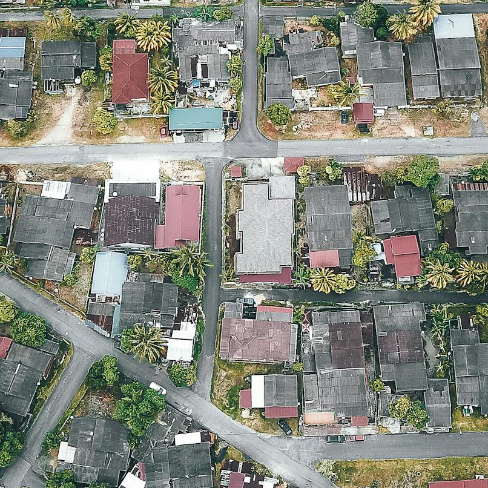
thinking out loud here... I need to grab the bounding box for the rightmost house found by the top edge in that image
[434,12,482,99]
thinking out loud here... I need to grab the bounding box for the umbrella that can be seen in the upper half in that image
[201,86,216,99]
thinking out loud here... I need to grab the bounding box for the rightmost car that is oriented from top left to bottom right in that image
[278,419,293,437]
